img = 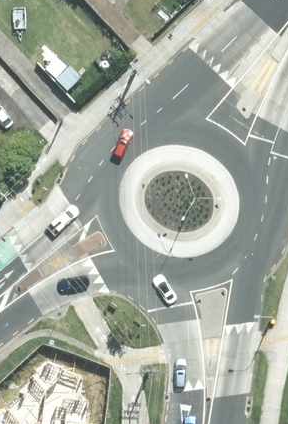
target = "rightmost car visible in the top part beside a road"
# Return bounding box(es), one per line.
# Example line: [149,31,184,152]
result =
[112,127,134,159]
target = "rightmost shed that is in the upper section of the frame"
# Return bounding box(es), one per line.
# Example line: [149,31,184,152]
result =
[56,65,81,90]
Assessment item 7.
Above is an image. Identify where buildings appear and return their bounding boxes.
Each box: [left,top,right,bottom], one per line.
[56,65,81,90]
[0,356,95,424]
